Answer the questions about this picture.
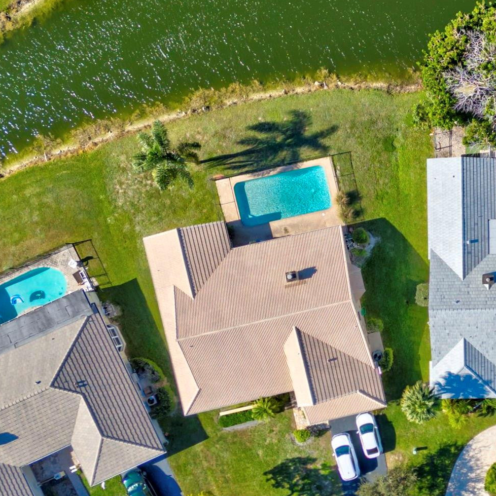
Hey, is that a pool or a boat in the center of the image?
pool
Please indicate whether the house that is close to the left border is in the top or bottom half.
bottom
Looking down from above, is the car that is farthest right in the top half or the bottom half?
bottom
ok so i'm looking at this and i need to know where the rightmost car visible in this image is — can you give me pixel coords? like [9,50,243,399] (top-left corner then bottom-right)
[353,411,383,463]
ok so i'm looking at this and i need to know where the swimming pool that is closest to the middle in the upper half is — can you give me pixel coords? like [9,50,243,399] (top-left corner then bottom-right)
[231,161,335,230]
